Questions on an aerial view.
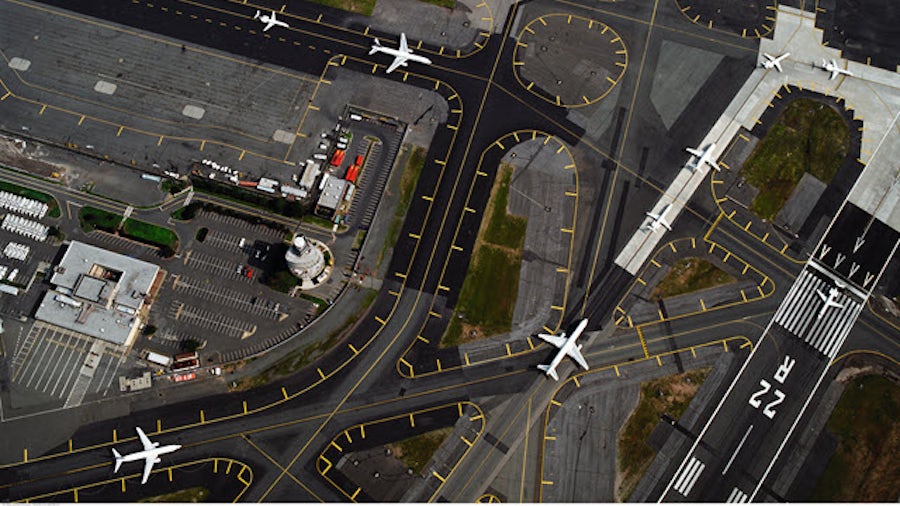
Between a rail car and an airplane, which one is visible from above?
airplane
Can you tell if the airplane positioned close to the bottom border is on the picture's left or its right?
left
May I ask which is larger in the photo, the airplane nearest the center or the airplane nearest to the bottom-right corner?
the airplane nearest the center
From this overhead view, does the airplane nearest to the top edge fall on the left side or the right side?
left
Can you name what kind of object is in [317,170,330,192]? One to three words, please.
vehicle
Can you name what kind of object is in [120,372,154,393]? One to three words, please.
building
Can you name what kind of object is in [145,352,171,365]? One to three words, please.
vehicle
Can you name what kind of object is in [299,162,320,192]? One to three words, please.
shed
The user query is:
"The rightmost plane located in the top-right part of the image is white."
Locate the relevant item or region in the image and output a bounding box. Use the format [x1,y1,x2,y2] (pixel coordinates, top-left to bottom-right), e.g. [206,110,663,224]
[824,60,852,78]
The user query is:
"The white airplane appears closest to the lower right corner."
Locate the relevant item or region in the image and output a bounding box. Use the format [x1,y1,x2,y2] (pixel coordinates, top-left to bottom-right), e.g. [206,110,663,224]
[815,285,843,317]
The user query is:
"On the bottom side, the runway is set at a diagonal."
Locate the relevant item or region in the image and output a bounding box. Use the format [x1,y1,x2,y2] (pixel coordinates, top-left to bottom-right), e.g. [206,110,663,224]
[657,114,900,506]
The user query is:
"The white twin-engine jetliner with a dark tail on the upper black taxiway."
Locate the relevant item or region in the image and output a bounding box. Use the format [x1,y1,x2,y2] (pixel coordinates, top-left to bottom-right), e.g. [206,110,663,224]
[368,33,432,73]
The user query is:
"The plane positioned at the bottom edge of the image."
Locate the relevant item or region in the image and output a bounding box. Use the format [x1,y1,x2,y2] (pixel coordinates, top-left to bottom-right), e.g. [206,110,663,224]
[110,425,183,485]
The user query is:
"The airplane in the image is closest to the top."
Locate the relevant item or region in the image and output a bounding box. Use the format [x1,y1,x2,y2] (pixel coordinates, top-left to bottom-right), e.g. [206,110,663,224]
[255,9,289,31]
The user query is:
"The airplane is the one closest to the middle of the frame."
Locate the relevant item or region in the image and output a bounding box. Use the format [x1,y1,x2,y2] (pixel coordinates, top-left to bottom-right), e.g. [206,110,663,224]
[538,320,588,380]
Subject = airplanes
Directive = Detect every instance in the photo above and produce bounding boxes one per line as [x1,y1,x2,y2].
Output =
[368,33,432,73]
[255,9,289,31]
[538,320,588,380]
[647,205,673,233]
[110,425,183,485]
[815,285,843,317]
[824,60,852,78]
[689,144,725,170]
[762,51,789,71]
